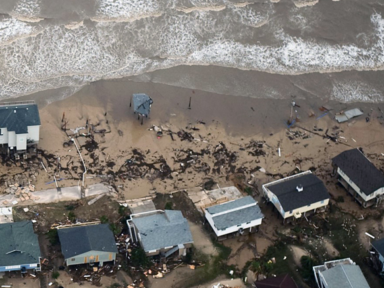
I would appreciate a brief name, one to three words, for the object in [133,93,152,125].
shed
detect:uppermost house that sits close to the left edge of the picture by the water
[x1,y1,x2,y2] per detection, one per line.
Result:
[0,101,40,159]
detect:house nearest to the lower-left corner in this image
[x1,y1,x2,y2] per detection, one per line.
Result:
[0,221,41,279]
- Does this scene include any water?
Yes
